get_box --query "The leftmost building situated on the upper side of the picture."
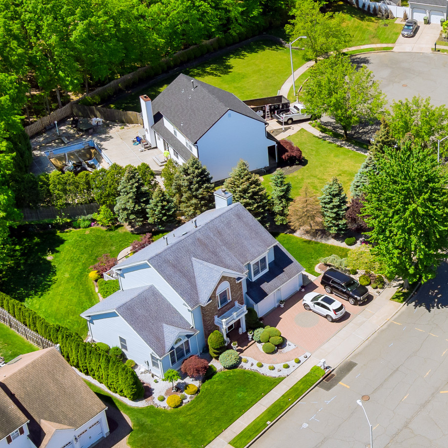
[139,73,282,185]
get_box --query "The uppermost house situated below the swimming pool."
[75,189,305,379]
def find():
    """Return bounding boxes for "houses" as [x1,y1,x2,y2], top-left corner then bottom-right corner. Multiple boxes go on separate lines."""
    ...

[139,73,282,185]
[0,350,109,448]
[406,0,448,23]
[75,189,305,379]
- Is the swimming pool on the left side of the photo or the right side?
left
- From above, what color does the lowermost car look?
white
